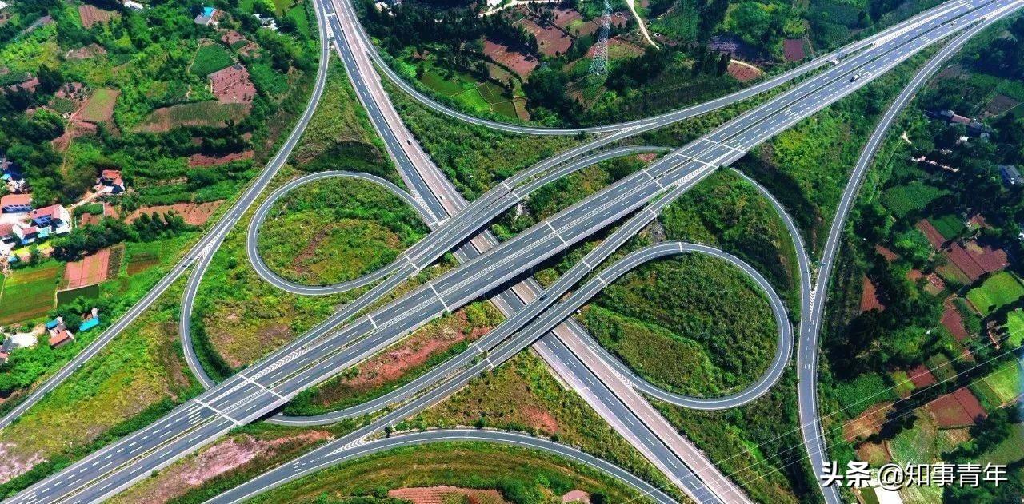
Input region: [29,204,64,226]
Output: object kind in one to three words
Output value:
house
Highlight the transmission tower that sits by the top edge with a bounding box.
[587,0,619,82]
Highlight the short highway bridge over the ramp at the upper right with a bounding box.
[678,130,744,170]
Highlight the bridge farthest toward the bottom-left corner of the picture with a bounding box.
[194,369,287,435]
